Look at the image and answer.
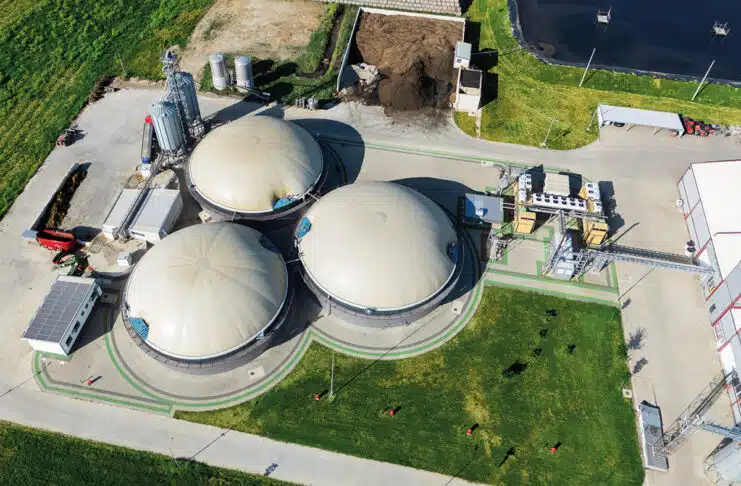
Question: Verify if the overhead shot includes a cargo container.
Yes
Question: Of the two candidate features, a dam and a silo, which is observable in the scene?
silo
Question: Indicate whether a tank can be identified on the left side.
Yes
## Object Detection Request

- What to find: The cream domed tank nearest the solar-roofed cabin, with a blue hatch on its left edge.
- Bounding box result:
[123,221,288,375]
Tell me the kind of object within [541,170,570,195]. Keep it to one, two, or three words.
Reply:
shed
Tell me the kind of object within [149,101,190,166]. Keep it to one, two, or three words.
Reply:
silo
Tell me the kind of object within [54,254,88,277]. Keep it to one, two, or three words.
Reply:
work vehicle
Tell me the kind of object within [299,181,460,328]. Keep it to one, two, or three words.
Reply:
storage tank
